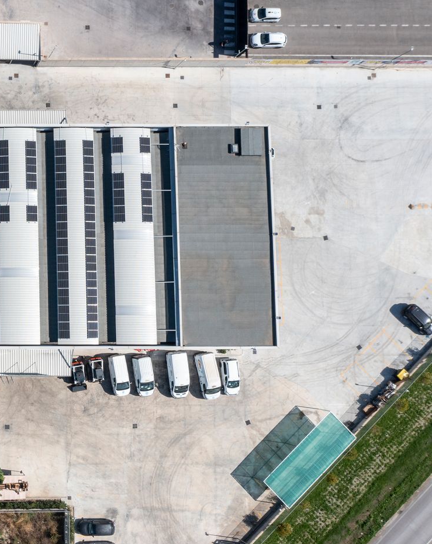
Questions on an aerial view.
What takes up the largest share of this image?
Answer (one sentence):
Most of the picture is covered by paved ground.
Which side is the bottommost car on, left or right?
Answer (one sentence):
The bottommost car is on the left side of the image.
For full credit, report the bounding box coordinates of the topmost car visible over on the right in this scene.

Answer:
[251,3,287,22]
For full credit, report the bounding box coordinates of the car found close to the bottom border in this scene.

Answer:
[77,521,116,541]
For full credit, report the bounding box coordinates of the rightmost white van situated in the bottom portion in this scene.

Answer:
[195,353,227,403]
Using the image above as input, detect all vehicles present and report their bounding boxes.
[87,358,107,382]
[252,29,289,47]
[107,354,135,398]
[71,361,91,389]
[405,306,432,341]
[77,521,116,541]
[168,353,195,400]
[133,355,159,397]
[195,353,227,403]
[251,3,287,22]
